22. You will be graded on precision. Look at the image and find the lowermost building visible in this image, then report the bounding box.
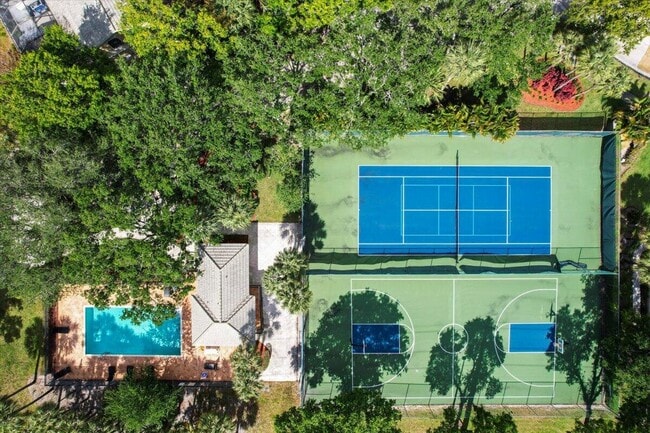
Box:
[190,243,257,347]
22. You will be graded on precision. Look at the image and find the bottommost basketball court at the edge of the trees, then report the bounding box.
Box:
[303,272,604,406]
